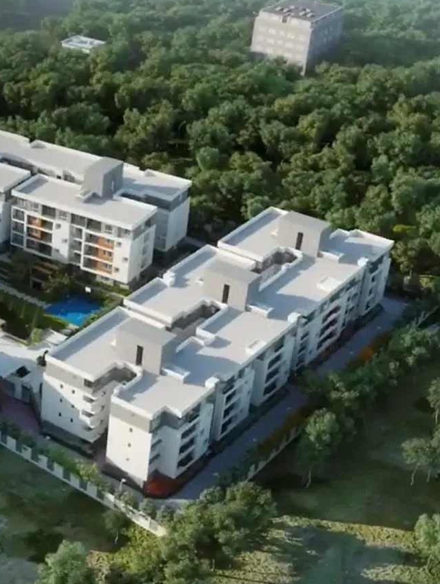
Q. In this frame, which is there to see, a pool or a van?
pool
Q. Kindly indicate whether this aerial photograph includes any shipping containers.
No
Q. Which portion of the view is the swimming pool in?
left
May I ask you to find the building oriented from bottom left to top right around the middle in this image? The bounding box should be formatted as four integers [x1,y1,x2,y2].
[47,205,393,486]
